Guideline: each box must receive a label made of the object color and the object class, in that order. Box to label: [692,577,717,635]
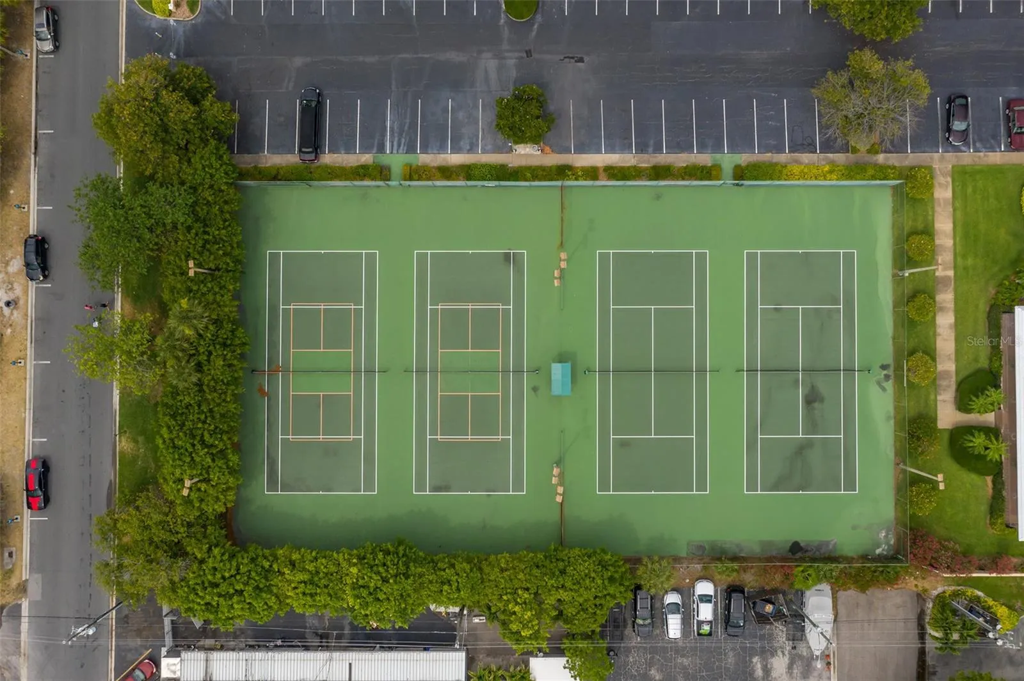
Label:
white truck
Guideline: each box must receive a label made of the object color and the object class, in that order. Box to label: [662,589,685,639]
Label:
white car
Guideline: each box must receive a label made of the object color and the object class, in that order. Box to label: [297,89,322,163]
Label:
black vehicle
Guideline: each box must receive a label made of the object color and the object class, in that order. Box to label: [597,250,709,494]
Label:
green tennis court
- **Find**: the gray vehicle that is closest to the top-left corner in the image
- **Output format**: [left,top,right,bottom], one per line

[34,5,61,53]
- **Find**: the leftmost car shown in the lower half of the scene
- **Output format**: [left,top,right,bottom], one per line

[25,459,52,508]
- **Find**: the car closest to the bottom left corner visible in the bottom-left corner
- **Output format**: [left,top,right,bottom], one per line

[123,661,157,681]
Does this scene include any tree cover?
Yes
